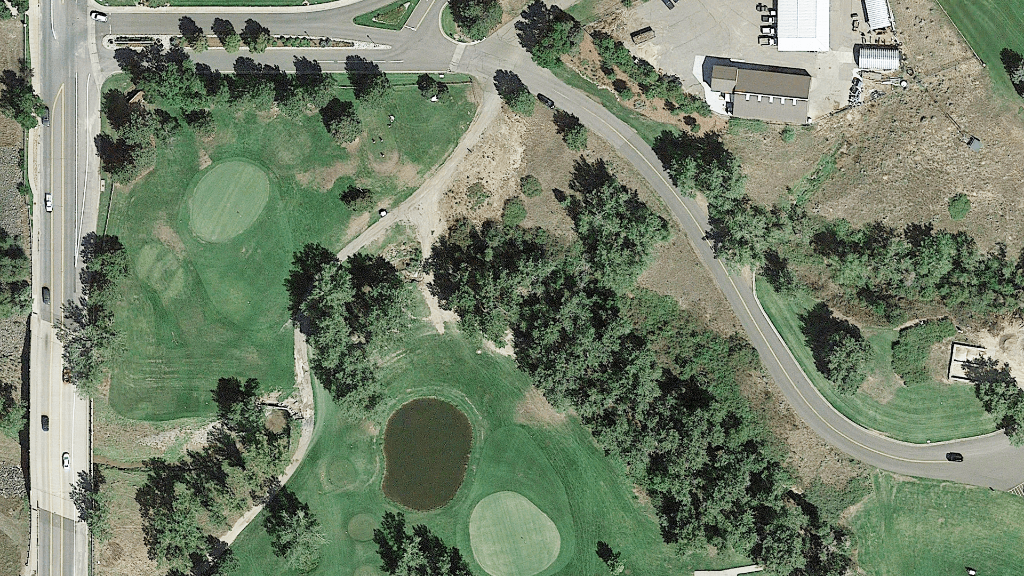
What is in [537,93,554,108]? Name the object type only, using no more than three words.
car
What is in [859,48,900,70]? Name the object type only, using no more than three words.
shed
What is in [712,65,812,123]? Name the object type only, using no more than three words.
building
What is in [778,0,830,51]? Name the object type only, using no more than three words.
building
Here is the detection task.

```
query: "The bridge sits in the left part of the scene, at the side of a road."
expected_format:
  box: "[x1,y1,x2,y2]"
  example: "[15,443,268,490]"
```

[29,313,93,525]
